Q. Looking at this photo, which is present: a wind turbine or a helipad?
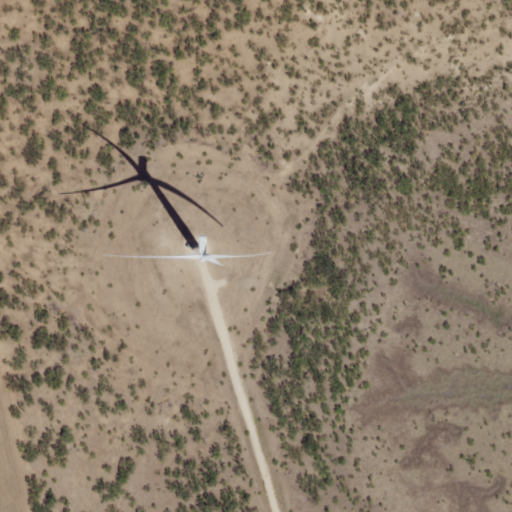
wind turbine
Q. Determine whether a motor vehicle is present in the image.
No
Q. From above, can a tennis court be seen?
No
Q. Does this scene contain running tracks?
No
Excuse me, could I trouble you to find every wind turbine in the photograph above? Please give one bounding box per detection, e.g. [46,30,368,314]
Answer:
[116,236,262,264]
